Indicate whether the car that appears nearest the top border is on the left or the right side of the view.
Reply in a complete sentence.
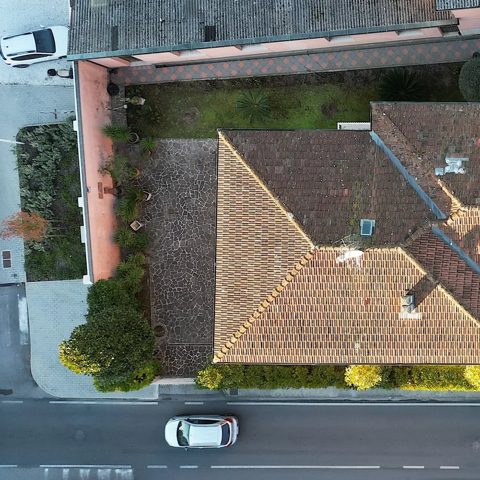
The car that appears nearest the top border is on the left side of the image.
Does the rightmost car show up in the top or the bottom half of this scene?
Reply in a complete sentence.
It is in the bottom half that the rightmost car appears.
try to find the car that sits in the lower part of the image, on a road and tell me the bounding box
[167,412,242,452]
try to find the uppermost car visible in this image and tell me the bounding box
[0,23,79,70]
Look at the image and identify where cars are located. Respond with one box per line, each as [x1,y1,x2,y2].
[0,23,79,70]
[167,412,242,452]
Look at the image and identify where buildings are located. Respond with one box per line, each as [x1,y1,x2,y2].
[67,0,465,67]
[210,100,480,367]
